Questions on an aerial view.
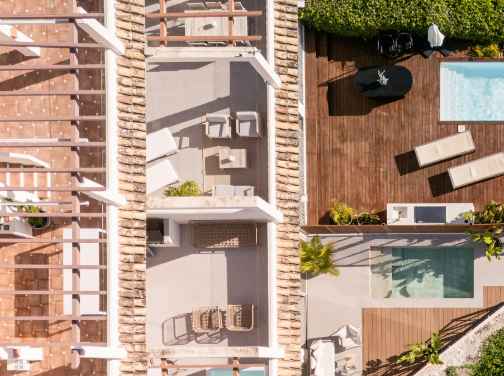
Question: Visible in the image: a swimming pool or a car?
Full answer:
Of the two, only a swimming pool appears.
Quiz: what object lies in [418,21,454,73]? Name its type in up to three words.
umbrella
